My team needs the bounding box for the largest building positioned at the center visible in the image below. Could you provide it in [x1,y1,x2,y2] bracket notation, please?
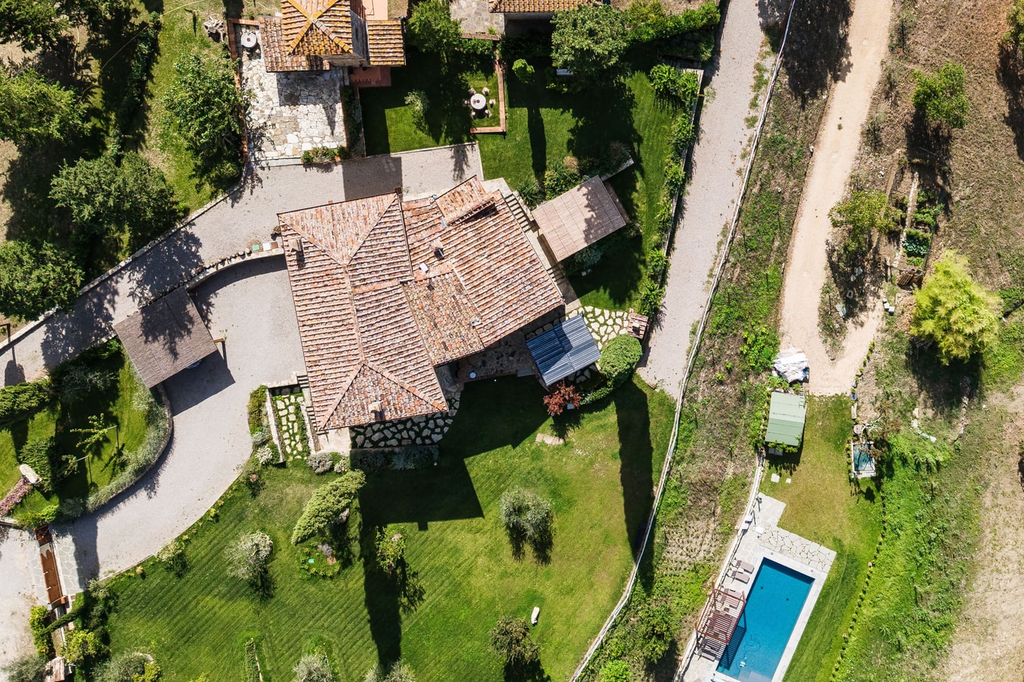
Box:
[275,175,566,432]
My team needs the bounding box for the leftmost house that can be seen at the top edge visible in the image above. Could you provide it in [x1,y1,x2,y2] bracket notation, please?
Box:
[258,0,409,73]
